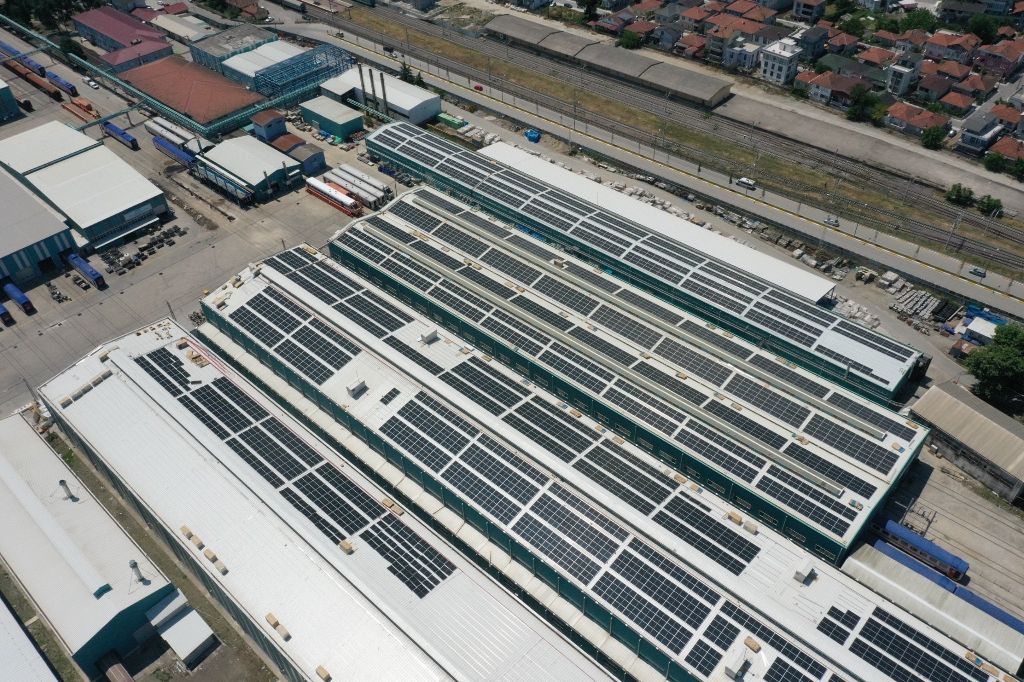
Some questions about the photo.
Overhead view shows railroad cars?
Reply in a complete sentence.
Yes, a railroad car can be made out from above.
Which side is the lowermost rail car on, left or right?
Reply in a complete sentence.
The lowermost rail car appears in the left half of the scene.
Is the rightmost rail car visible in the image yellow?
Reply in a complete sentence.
No, the color of the rightmost rail car is blue.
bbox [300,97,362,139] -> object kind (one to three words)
building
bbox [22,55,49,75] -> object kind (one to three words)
rail car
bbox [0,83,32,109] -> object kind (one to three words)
rail car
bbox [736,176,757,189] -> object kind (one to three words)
vehicle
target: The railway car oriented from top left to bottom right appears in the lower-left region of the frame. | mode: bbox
[101,646,143,682]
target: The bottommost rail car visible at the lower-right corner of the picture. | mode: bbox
[958,585,1024,637]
